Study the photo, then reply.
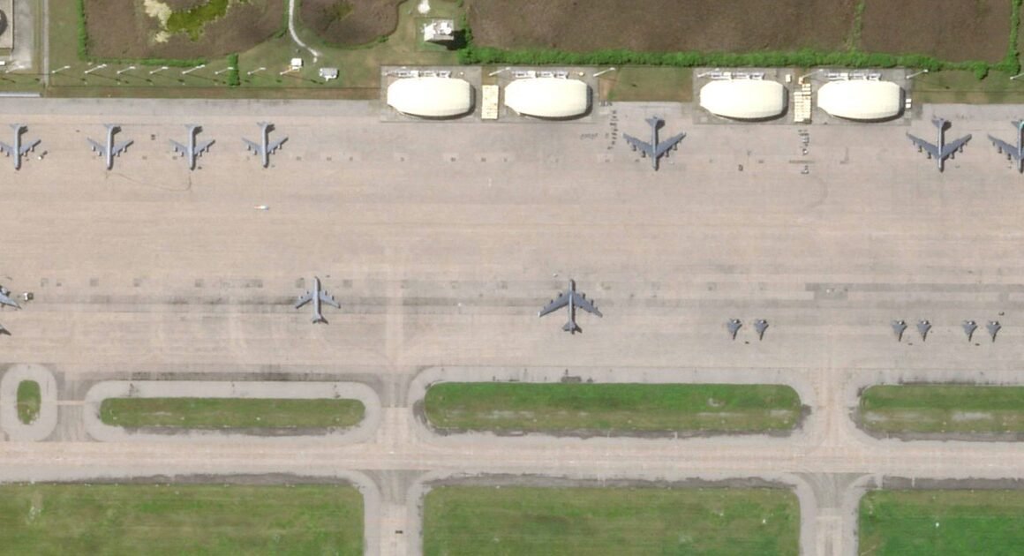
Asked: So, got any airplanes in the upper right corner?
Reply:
Yes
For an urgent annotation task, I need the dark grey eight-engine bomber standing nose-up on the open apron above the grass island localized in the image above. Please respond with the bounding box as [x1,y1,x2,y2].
[541,279,604,333]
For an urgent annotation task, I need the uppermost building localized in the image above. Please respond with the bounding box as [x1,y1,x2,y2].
[424,22,455,42]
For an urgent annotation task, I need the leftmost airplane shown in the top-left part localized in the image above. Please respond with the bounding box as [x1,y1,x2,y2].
[0,122,40,170]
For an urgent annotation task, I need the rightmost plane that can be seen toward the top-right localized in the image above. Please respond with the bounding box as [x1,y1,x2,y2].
[990,118,1024,173]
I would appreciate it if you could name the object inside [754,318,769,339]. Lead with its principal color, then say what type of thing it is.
gray airplane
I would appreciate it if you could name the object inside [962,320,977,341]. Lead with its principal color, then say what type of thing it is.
gray airplane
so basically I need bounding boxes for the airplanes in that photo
[987,320,1001,341]
[541,279,604,333]
[754,318,769,339]
[170,122,215,170]
[0,122,40,170]
[917,320,932,340]
[727,318,742,339]
[962,320,977,341]
[87,122,132,170]
[892,320,907,340]
[243,120,288,168]
[623,114,686,170]
[909,116,972,172]
[990,118,1024,173]
[295,277,340,323]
